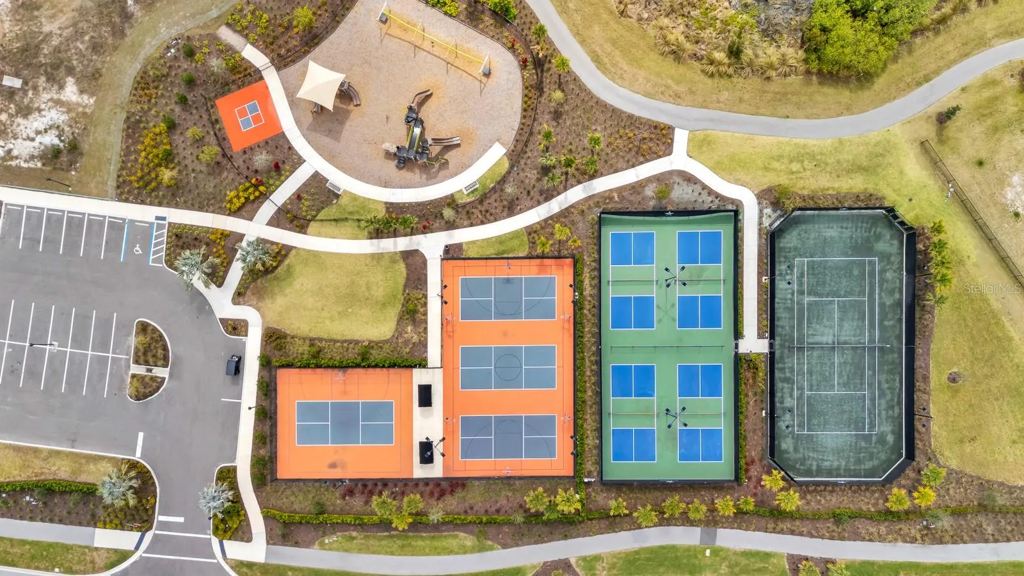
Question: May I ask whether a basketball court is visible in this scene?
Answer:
Yes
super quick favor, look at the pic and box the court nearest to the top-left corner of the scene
[215,80,282,151]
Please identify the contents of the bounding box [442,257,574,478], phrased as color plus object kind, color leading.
orange basketball court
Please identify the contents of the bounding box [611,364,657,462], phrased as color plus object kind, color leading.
blue sports court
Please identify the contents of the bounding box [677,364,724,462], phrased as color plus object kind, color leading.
blue sports court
